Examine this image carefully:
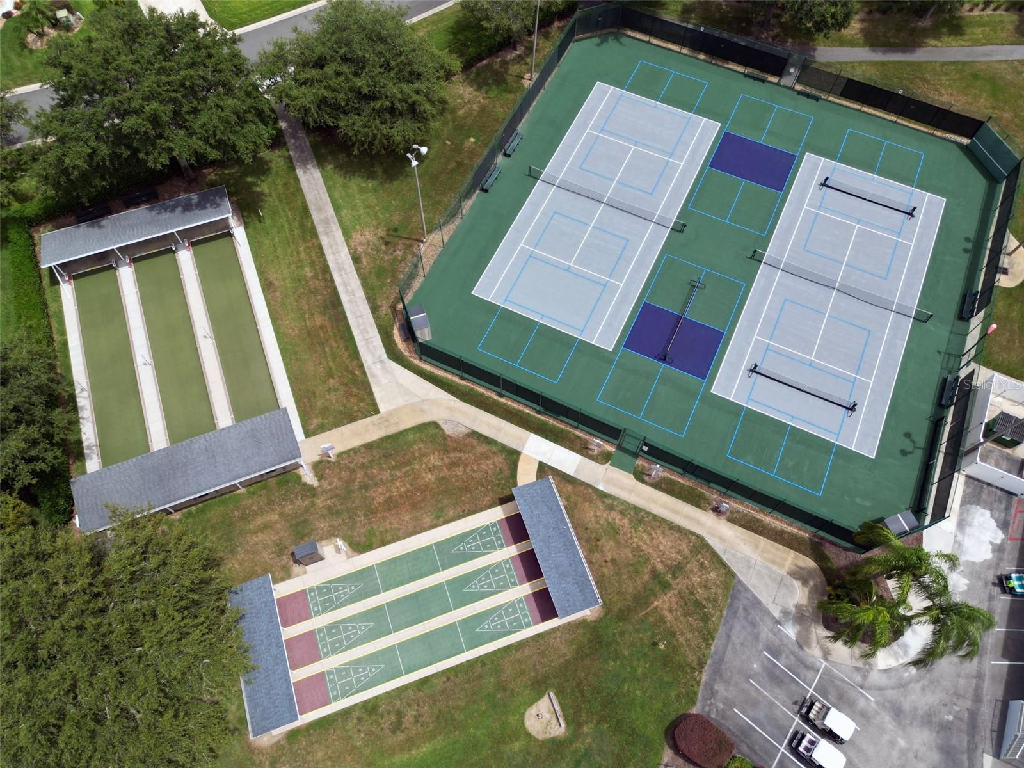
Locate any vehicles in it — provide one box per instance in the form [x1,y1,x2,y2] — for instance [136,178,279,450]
[784,727,846,768]
[796,695,856,748]
[983,572,1024,599]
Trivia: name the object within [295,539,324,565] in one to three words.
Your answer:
shed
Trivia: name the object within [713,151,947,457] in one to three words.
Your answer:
tennis court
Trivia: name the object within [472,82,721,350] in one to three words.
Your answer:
tennis court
